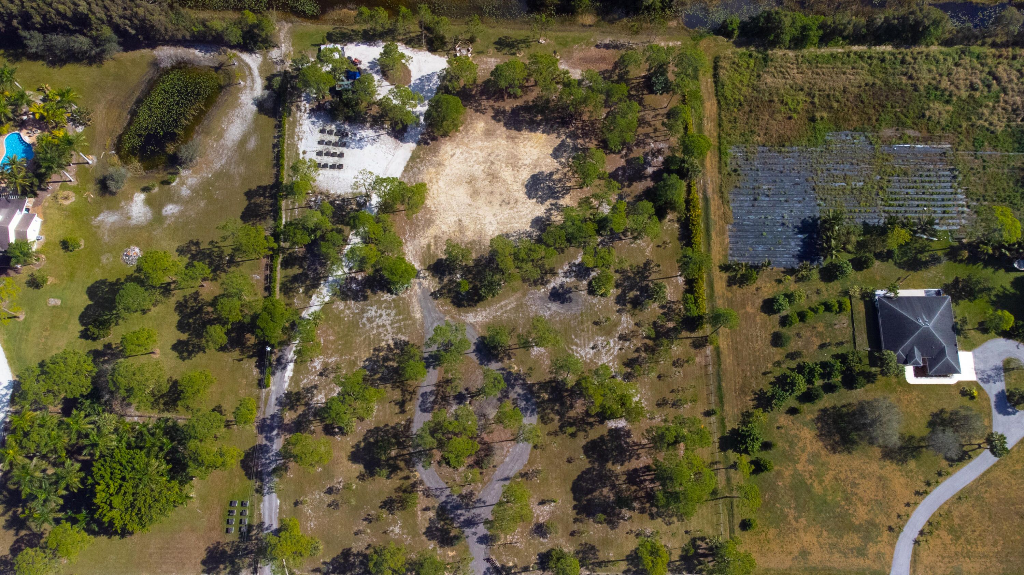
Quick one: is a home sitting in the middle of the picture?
No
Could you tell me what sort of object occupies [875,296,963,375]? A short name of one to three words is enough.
house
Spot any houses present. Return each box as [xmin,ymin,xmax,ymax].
[875,296,963,375]
[0,196,43,259]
